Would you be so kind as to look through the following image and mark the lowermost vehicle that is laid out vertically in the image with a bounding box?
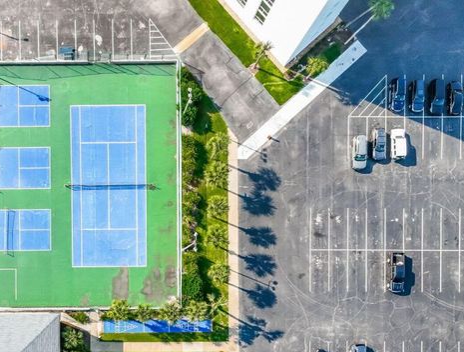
[388,253,406,294]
